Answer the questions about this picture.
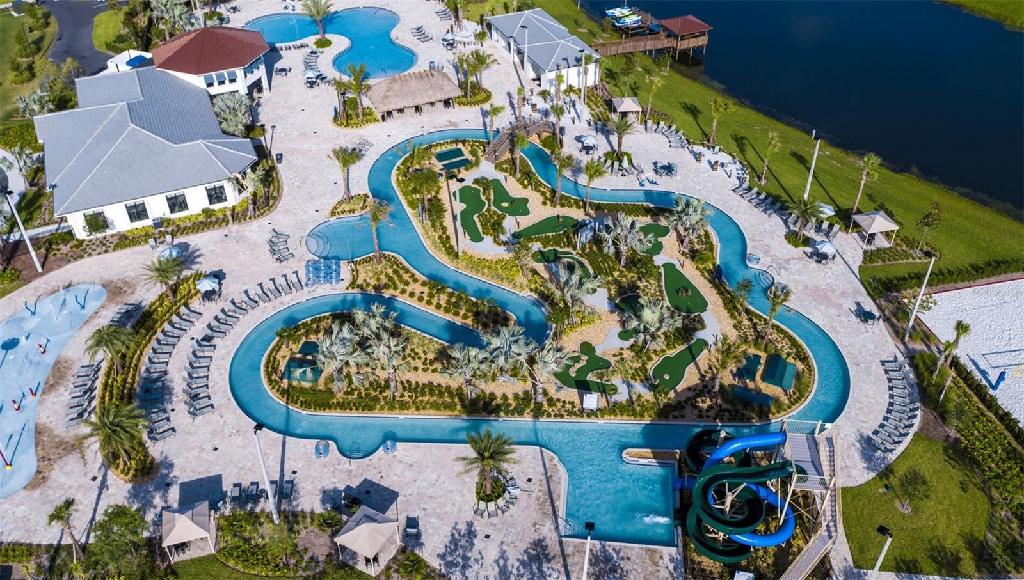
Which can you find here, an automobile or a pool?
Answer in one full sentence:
This aerial view contains a pool.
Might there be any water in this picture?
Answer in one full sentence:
Yes, the picture does contain water.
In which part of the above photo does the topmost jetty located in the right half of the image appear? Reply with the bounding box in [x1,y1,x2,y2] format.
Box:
[617,0,663,33]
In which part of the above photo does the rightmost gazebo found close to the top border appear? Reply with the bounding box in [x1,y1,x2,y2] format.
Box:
[658,12,713,57]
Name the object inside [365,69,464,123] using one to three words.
shed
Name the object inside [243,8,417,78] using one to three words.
swimming pool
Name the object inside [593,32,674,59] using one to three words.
pier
